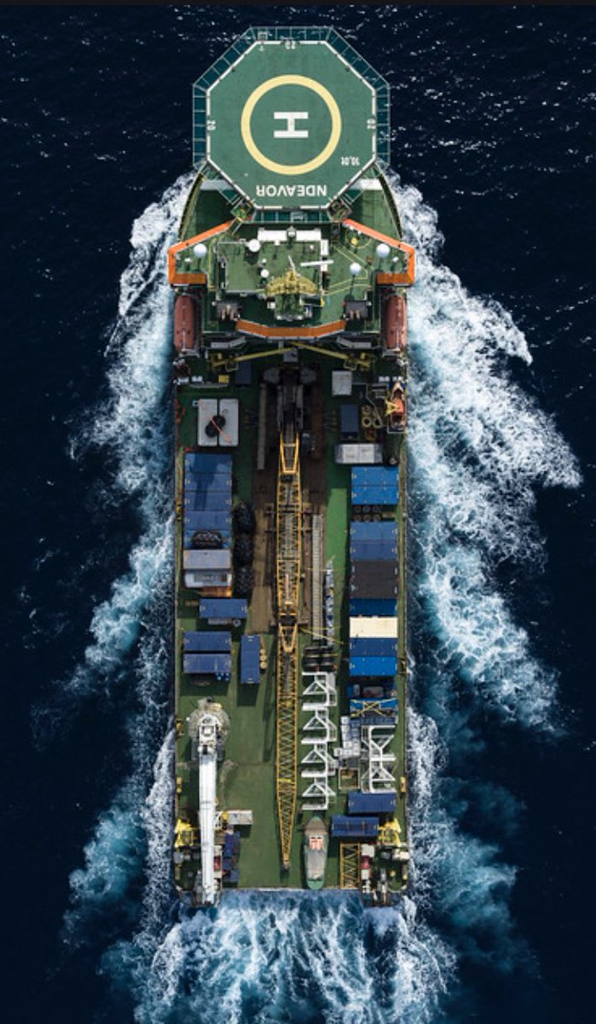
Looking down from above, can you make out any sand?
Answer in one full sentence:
No, the scene doesn't show any sand.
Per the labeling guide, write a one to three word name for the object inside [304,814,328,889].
boat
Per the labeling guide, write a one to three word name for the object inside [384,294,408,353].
boat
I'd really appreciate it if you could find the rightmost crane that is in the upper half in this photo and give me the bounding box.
[292,342,376,375]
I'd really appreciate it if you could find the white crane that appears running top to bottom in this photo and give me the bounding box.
[185,696,229,907]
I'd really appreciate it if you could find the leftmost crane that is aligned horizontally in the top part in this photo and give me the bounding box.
[210,345,296,375]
